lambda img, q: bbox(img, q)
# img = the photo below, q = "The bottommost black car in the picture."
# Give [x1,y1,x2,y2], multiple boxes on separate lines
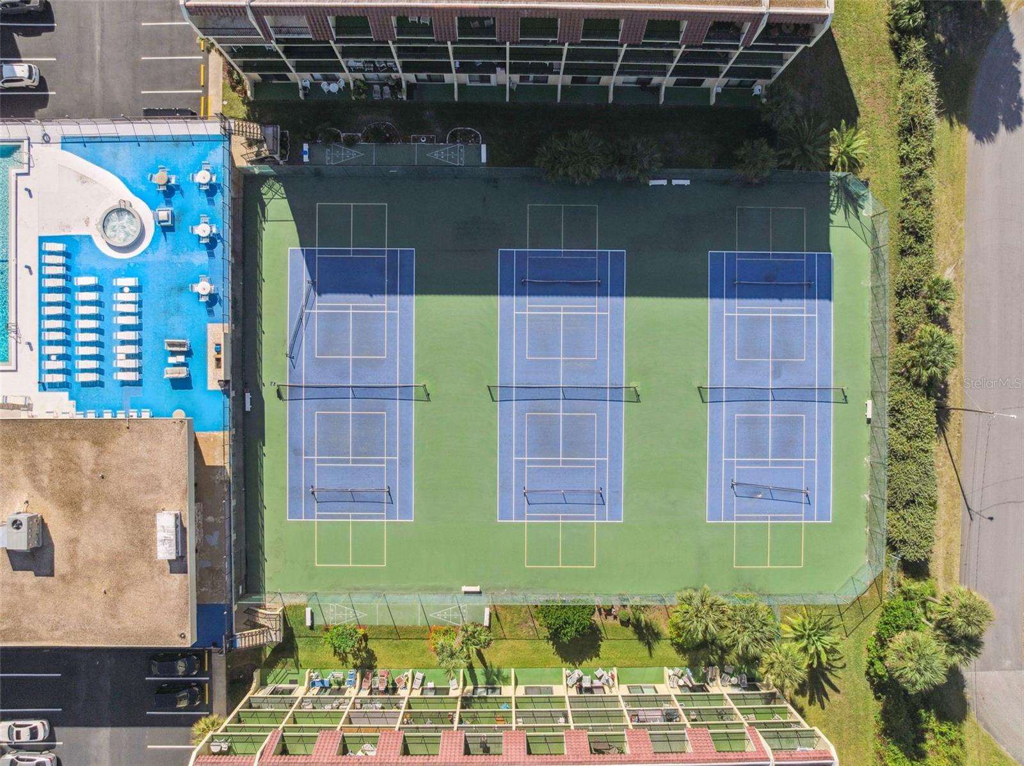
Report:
[156,684,207,711]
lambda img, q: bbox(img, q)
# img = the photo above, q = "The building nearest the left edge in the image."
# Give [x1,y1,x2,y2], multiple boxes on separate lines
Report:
[0,418,198,650]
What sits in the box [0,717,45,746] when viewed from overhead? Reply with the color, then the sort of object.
white car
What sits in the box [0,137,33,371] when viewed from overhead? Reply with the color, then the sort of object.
white swimming pool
